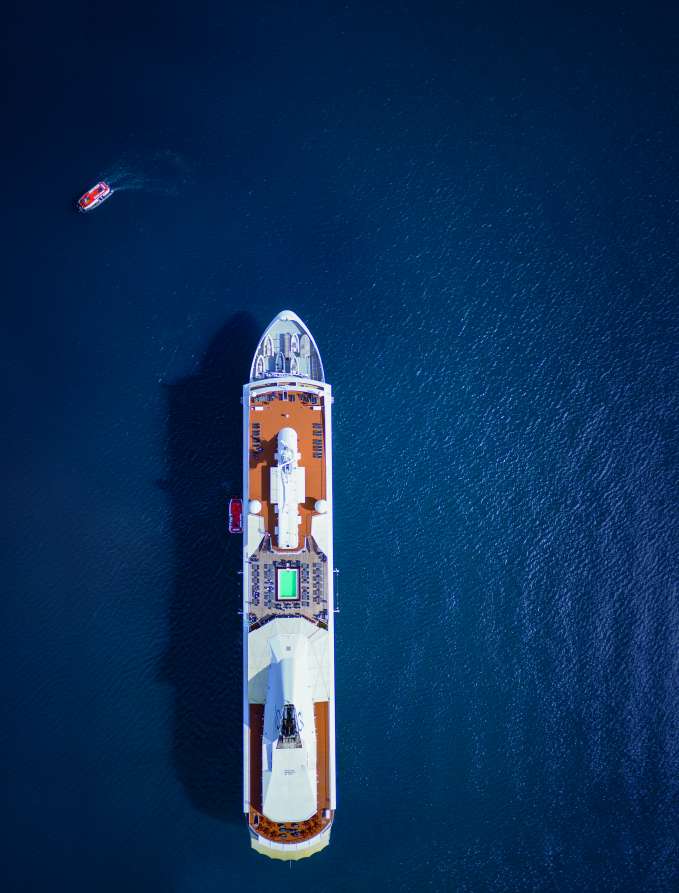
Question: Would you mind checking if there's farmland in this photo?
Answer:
No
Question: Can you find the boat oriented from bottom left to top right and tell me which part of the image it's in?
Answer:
top left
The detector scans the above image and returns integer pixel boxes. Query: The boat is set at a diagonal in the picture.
[78,181,109,208]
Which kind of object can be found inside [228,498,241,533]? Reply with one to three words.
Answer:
boat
